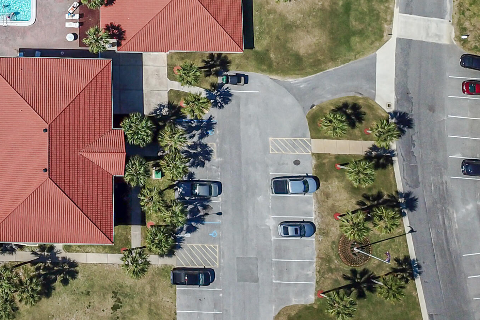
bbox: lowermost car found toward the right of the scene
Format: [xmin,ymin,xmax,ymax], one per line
[278,222,318,241]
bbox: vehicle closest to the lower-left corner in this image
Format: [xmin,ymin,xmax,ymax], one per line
[171,268,219,290]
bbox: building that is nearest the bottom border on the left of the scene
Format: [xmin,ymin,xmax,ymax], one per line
[0,57,126,245]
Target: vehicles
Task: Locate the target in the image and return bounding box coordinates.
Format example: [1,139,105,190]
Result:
[271,176,323,197]
[460,54,480,71]
[219,73,248,84]
[171,268,219,290]
[461,159,480,177]
[462,80,480,96]
[278,222,318,241]
[179,179,224,200]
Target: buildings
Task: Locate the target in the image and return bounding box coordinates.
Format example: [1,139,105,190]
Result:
[99,0,244,52]
[0,57,126,245]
